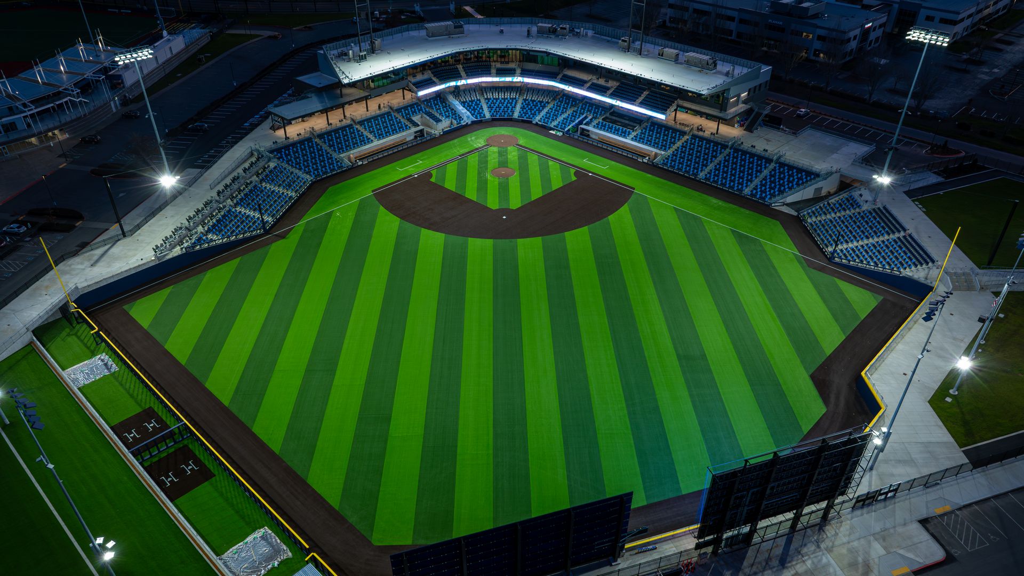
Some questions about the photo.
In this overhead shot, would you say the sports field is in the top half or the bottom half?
top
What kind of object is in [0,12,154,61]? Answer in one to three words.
sports field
